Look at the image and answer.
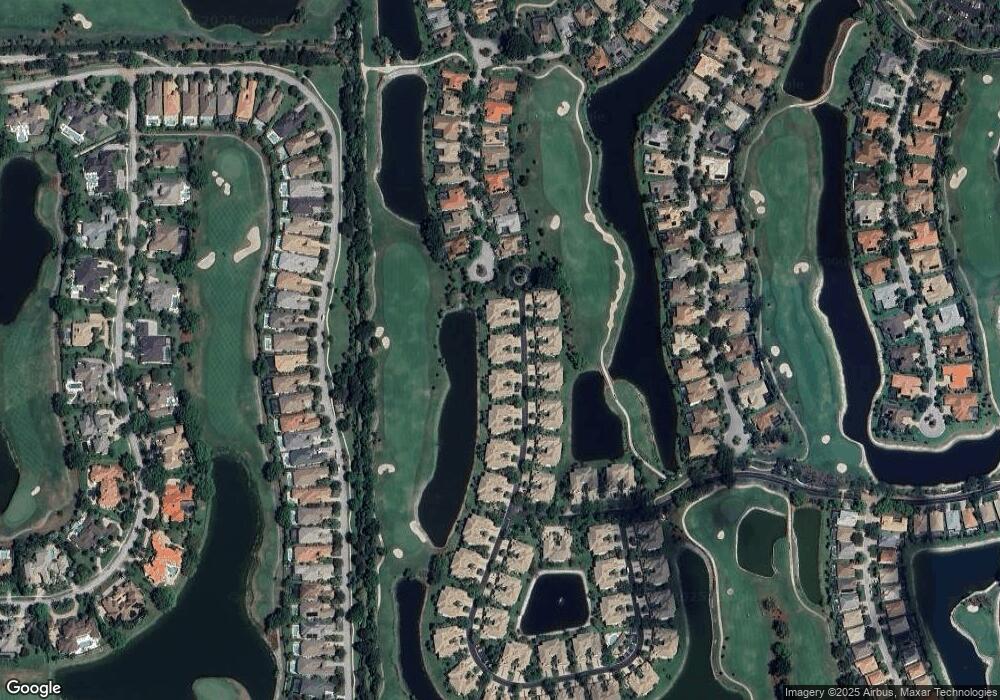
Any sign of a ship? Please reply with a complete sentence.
No, no ship is visible in the view.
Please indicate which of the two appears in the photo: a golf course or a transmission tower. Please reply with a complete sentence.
The one in the frame is a golf course.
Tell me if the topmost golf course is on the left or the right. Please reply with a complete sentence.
The topmost golf course is on the left side of the image.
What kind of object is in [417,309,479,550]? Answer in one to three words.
pond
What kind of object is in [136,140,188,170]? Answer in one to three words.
house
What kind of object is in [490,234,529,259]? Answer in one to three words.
house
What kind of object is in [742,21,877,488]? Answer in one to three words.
golf course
